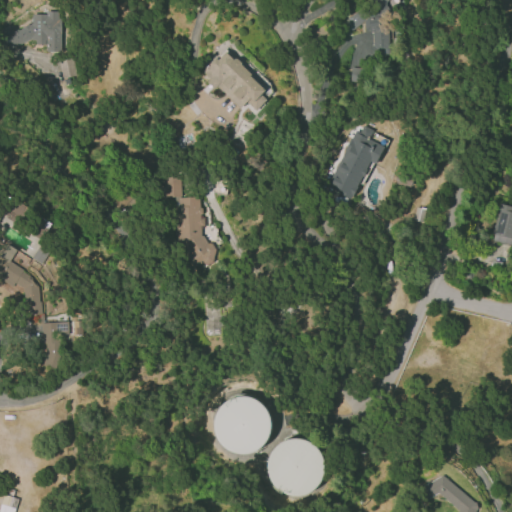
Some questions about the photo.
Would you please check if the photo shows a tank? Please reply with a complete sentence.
Yes, looking at the shot, I can spot a tank.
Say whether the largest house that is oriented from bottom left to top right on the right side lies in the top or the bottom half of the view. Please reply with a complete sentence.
You can find the largest house that is oriented from bottom left to top right on the right side in the top half.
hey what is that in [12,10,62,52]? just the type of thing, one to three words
house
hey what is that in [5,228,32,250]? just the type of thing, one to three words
swimming pool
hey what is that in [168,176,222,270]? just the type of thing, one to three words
house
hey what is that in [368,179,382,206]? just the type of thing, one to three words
swimming pool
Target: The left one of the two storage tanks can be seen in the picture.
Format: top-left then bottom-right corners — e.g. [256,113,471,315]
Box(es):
[214,396,272,454]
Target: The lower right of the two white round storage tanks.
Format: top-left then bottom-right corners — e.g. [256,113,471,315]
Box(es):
[268,438,324,496]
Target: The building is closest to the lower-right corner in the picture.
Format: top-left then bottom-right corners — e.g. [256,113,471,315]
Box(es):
[427,474,484,512]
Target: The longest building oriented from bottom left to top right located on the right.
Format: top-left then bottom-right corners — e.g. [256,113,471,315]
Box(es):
[331,124,392,196]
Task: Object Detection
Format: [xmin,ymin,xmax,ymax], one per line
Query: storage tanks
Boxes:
[214,396,272,454]
[268,438,324,496]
